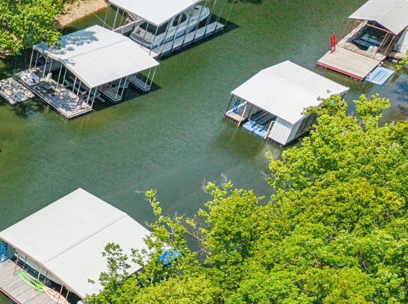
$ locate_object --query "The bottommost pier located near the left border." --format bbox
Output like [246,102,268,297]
[0,188,163,304]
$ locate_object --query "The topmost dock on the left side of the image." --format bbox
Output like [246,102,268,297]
[67,0,226,61]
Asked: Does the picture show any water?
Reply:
Yes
